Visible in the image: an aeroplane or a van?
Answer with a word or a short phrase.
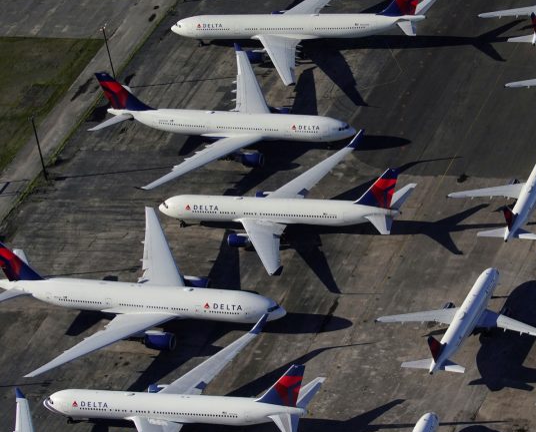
aeroplane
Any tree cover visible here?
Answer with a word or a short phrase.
No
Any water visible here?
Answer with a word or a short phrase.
No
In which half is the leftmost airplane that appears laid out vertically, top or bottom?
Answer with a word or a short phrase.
bottom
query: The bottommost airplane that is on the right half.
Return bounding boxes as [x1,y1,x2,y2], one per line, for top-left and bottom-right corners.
[408,414,434,432]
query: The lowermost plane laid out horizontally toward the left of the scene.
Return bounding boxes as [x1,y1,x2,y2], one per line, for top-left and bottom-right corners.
[43,313,326,432]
